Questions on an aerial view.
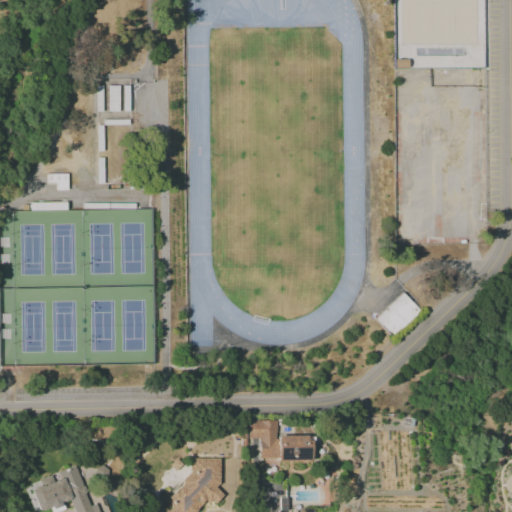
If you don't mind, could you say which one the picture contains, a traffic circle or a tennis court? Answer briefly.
tennis court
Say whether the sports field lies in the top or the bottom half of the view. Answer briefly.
top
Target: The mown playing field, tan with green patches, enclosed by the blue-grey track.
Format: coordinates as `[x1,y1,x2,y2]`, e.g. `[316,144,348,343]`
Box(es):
[210,28,346,320]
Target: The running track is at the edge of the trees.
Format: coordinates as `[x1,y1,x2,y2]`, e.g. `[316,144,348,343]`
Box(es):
[187,0,366,346]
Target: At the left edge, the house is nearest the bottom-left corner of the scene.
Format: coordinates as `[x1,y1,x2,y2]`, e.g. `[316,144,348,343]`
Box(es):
[26,466,98,512]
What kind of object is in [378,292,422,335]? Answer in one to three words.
building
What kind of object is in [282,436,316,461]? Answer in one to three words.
house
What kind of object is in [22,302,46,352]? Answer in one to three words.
tennis court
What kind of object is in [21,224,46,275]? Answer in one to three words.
tennis court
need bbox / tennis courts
[52,301,76,352]
[22,302,46,352]
[120,300,146,352]
[92,300,116,352]
[121,223,145,274]
[88,223,114,274]
[21,224,46,275]
[50,224,76,274]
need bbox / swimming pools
[296,490,320,502]
[104,494,120,512]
